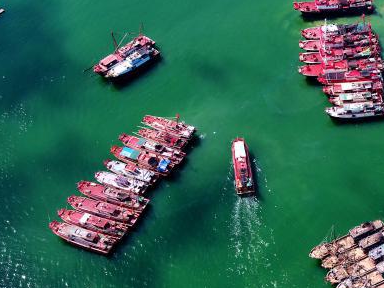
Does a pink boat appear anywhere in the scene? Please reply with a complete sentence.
Yes, there's a pink boat down there.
